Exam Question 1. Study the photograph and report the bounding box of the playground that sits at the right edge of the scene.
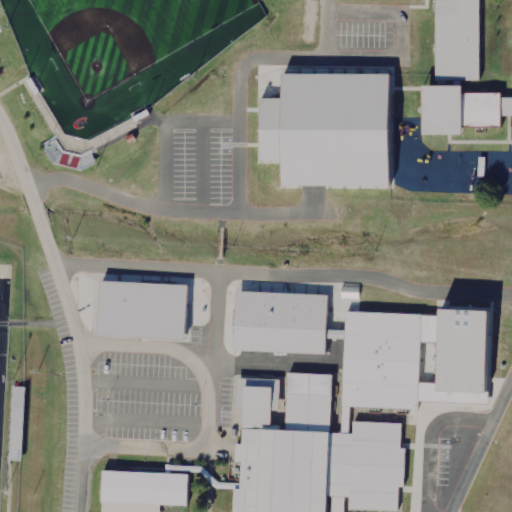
[394,118,512,194]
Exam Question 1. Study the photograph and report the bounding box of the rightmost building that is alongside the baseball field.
[280,74,392,189]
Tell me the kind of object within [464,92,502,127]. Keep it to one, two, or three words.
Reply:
house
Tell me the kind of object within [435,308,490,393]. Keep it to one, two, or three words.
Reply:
building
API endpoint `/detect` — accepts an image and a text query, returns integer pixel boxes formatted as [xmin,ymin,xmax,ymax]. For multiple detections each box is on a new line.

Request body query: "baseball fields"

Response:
[0,0,266,140]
